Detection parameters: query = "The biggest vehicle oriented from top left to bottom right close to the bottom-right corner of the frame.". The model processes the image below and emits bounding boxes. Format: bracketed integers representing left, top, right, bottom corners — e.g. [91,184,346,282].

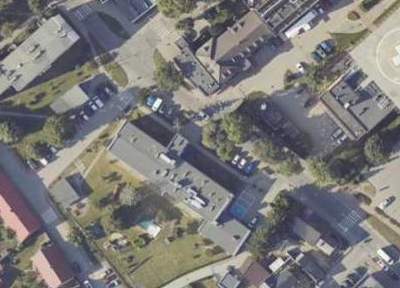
[376,247,392,263]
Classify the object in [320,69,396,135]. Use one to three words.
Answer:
building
